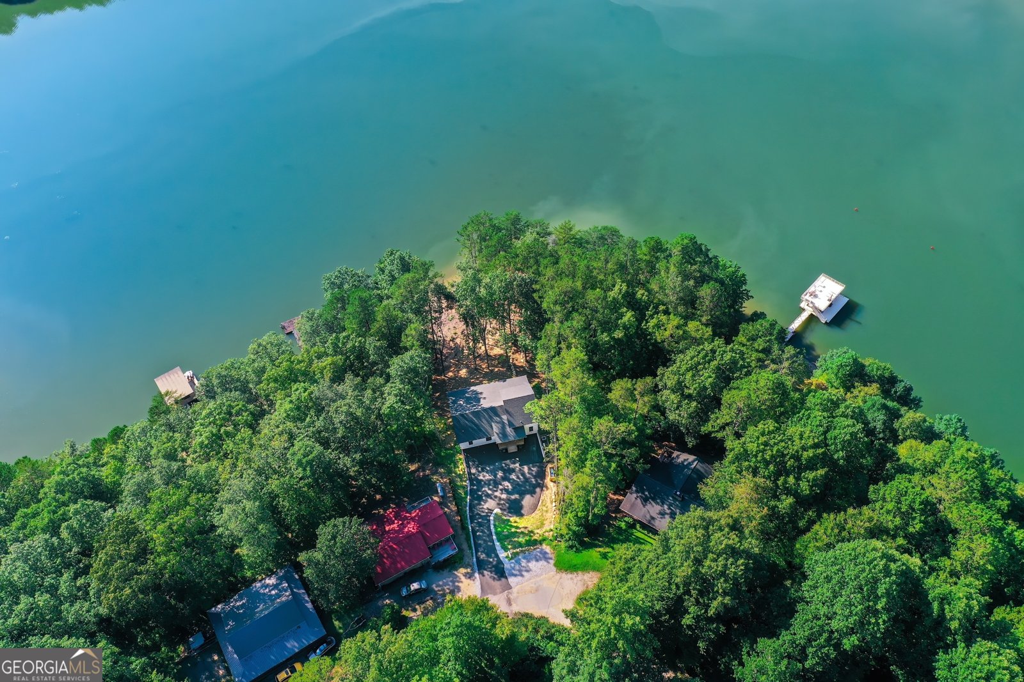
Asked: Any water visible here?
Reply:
Yes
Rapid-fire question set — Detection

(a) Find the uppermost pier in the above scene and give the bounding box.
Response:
[793,271,853,327]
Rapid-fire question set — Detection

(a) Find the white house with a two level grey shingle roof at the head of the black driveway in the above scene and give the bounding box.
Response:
[446,374,538,455]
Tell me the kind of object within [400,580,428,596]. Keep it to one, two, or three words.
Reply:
car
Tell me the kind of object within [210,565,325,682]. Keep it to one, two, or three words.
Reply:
house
